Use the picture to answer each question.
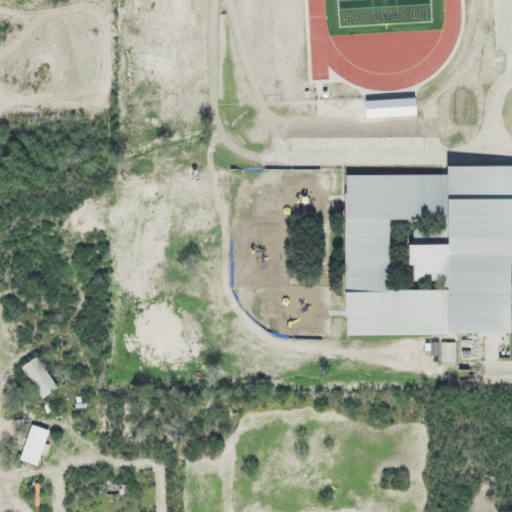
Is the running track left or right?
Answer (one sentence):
The running track sits on the right side.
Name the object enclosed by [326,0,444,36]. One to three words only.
sports field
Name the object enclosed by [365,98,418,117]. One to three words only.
building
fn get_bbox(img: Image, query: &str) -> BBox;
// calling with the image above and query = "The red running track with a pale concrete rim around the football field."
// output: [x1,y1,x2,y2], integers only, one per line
[306,0,464,94]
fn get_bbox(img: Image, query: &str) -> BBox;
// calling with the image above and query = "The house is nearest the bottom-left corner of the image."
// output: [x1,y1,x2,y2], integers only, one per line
[20,424,50,465]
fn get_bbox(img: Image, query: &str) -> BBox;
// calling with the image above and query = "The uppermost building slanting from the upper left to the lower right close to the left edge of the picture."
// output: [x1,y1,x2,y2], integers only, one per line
[21,357,54,397]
